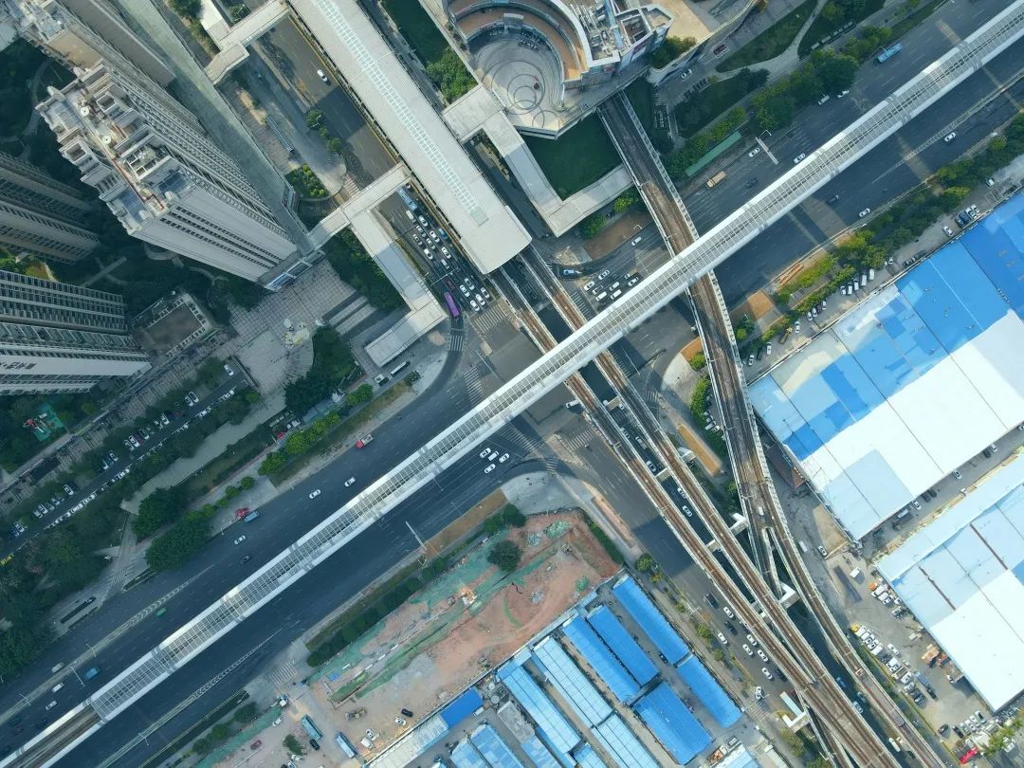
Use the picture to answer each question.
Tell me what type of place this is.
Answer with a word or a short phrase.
industrial area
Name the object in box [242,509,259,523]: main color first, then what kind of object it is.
blue vehicle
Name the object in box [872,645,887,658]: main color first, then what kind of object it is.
white vehicle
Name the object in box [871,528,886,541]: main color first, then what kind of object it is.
blue vehicle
